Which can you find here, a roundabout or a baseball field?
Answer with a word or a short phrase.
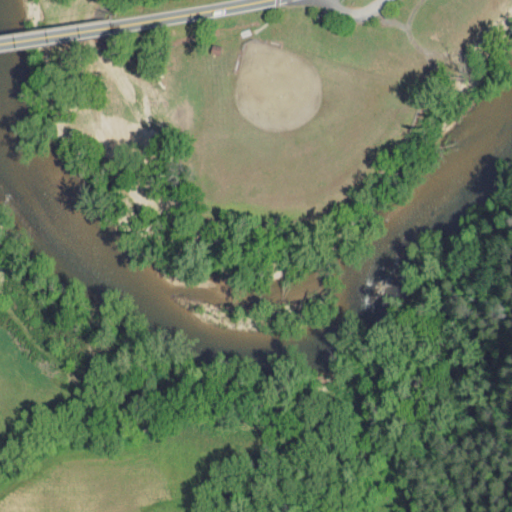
baseball field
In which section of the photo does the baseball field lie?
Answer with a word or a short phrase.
top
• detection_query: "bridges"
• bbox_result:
[0,16,116,53]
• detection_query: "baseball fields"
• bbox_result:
[235,38,322,131]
